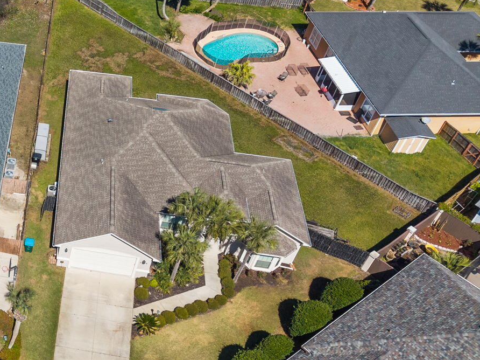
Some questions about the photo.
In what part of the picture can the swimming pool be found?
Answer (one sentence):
The swimming pool is located in the top region of the scene.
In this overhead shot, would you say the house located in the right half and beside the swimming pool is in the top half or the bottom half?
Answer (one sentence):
Seen from above, the house located in the right half and beside the swimming pool lies in the top half of the view.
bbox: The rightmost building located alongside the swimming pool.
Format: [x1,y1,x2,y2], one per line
[302,11,480,137]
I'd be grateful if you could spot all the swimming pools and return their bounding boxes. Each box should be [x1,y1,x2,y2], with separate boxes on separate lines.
[192,28,290,70]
